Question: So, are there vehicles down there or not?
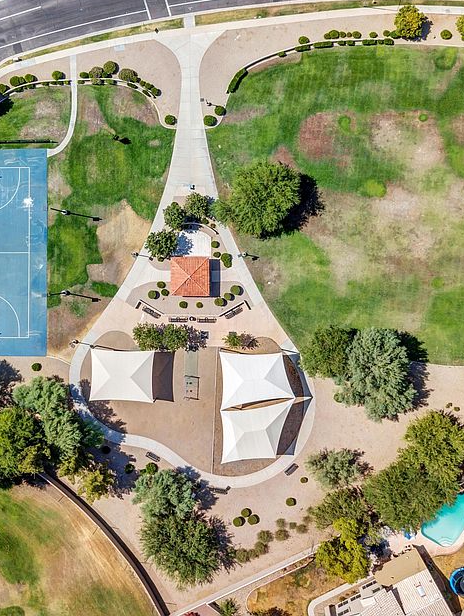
No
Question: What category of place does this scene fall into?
sports ground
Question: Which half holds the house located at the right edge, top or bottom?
bottom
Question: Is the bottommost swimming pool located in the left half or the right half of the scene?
right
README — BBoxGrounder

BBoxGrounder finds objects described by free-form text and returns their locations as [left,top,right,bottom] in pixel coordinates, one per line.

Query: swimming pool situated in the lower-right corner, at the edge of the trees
[419,489,464,550]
